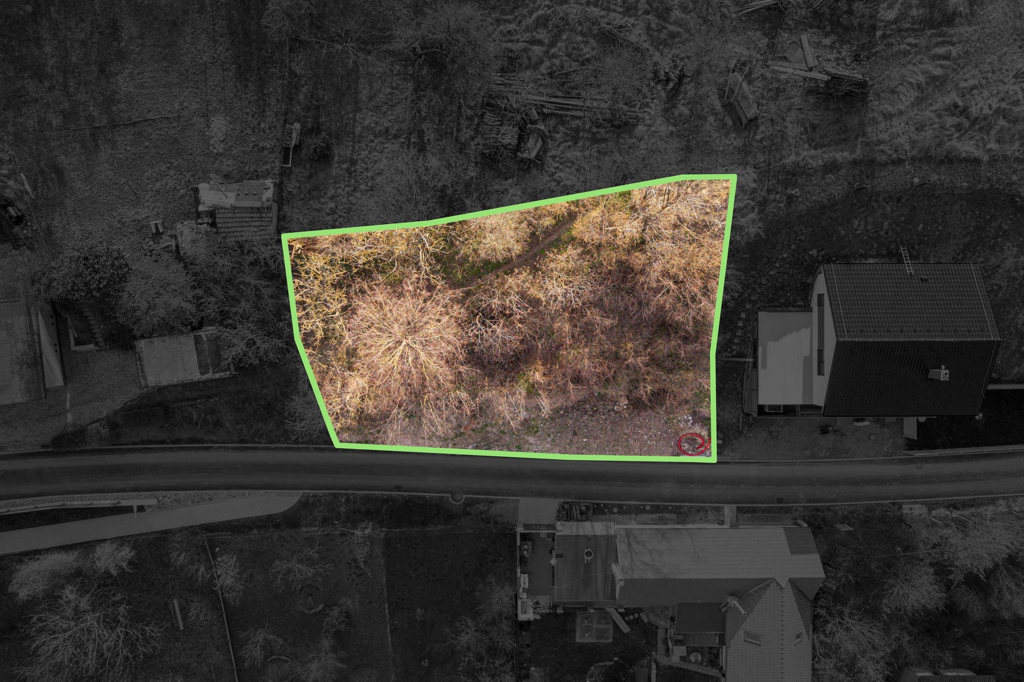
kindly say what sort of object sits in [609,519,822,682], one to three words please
house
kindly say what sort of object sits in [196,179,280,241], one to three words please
shed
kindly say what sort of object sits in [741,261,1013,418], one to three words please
house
